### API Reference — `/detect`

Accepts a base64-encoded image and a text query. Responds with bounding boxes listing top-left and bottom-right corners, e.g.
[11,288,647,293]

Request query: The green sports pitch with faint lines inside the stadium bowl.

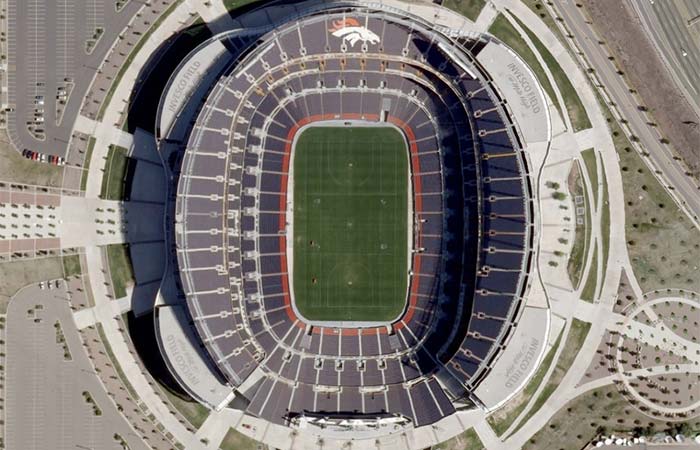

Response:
[287,120,414,328]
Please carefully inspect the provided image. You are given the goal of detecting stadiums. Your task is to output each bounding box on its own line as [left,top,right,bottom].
[154,1,550,432]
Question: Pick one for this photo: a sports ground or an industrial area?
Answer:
sports ground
